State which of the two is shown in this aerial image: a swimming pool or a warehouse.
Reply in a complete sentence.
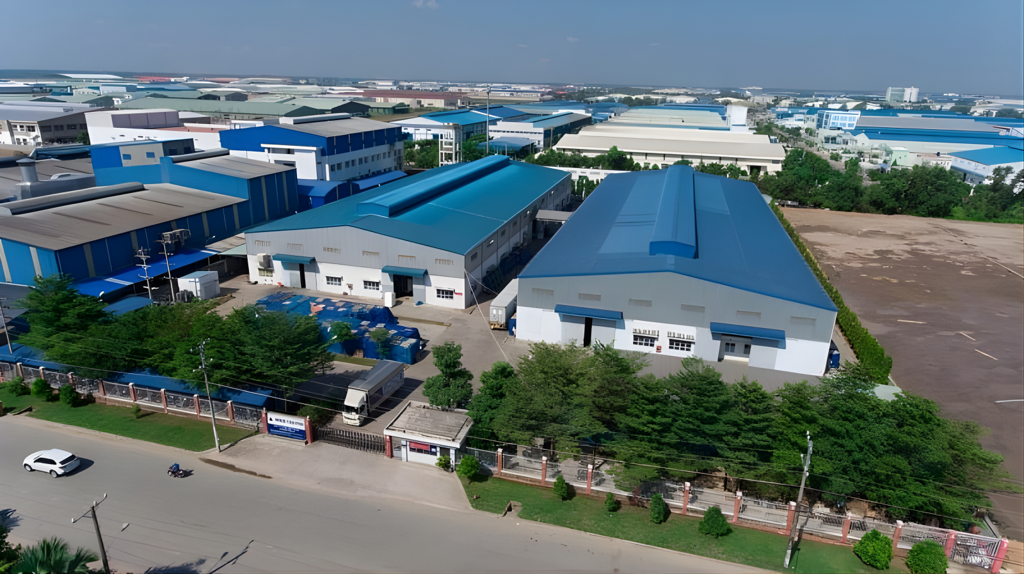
The one in the frame is a warehouse.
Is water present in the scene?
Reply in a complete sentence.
No, there's no water in this view.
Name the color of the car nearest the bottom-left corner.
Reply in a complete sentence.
The color of the car nearest the bottom-left corner is white.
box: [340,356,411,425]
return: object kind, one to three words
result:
truck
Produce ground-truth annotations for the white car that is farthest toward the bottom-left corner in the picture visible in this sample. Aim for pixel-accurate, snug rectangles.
[22,447,83,477]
